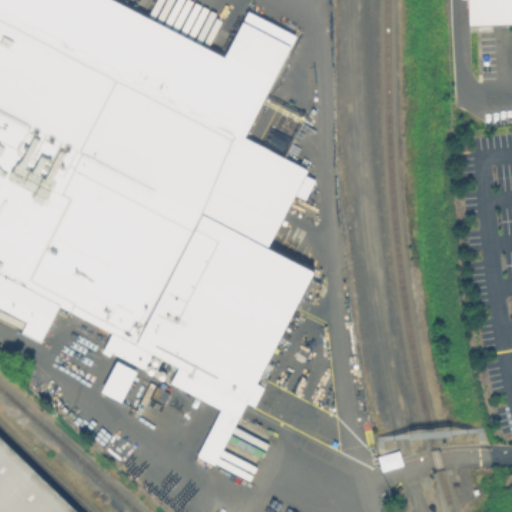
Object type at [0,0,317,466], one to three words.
building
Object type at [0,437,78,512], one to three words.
building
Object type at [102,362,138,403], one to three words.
shed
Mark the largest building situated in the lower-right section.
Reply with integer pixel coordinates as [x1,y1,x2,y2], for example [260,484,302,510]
[380,451,404,473]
